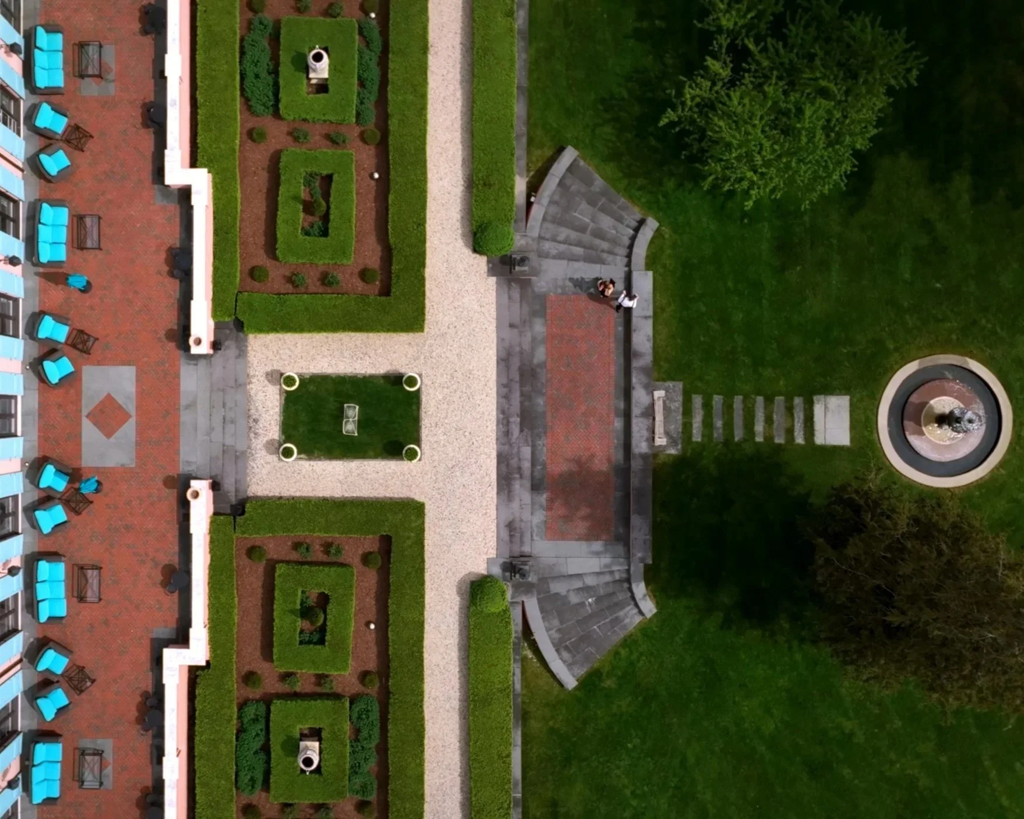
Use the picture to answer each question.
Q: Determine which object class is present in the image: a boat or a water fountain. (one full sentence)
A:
Looking from above, you can make out a water fountain.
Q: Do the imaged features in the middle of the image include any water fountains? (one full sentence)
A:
No, no water fountain appears in the middle of the image.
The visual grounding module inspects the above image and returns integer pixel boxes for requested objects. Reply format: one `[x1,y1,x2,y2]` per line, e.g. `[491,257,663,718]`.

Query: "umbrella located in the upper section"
[62,271,92,291]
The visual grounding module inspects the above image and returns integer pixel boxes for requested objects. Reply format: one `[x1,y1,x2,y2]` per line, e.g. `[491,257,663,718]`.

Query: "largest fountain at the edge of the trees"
[875,354,1011,488]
